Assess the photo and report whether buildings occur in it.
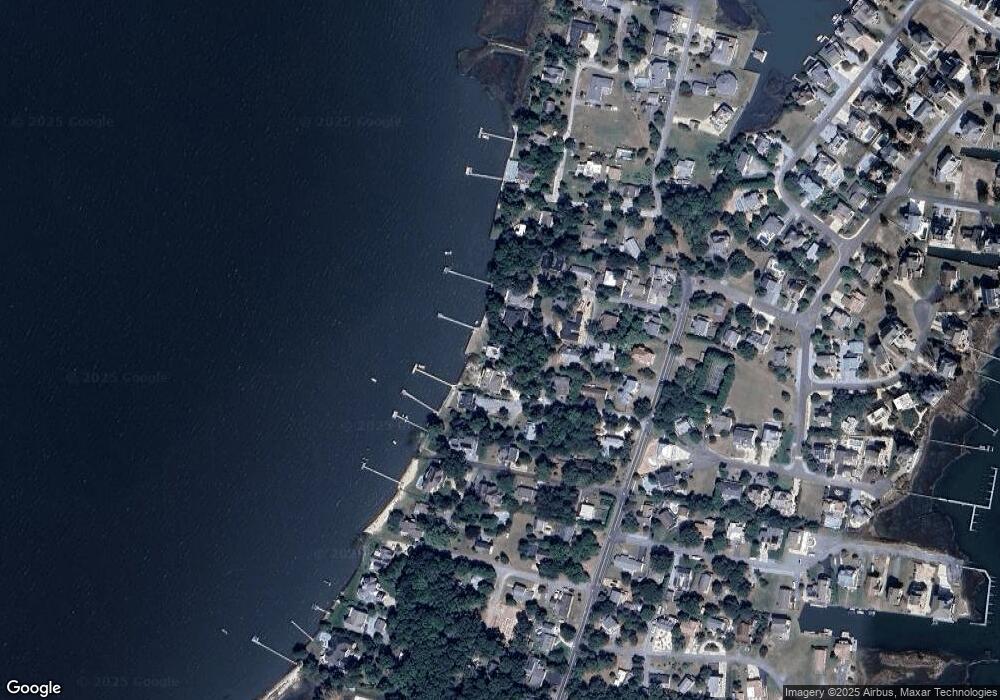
Yes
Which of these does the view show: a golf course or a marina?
marina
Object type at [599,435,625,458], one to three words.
house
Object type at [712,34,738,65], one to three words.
house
